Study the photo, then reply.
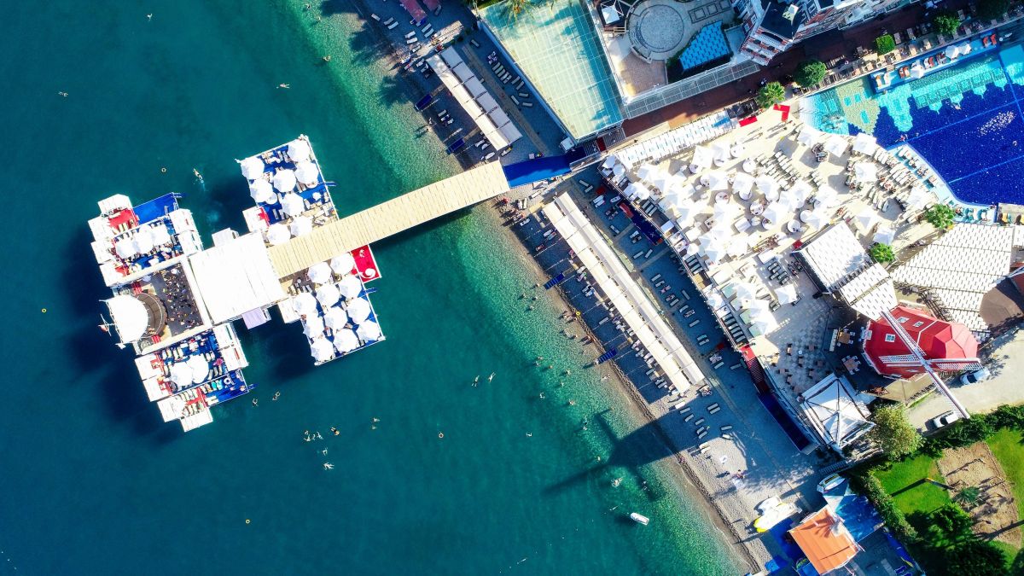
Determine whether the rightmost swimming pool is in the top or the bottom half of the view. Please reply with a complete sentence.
You can find the rightmost swimming pool in the top half.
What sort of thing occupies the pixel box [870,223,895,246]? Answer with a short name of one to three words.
umbrella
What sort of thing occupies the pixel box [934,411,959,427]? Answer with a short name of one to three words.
car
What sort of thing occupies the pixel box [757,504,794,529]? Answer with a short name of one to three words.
boat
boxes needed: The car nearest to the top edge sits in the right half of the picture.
[963,368,988,384]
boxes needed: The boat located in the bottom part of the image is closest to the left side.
[629,511,649,525]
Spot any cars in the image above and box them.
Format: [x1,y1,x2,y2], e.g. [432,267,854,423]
[963,368,988,384]
[934,411,959,427]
